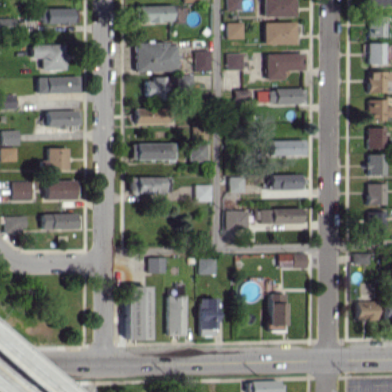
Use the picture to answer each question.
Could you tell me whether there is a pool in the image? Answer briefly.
Yes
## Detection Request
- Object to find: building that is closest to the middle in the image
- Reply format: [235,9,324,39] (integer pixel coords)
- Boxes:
[195,184,212,204]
